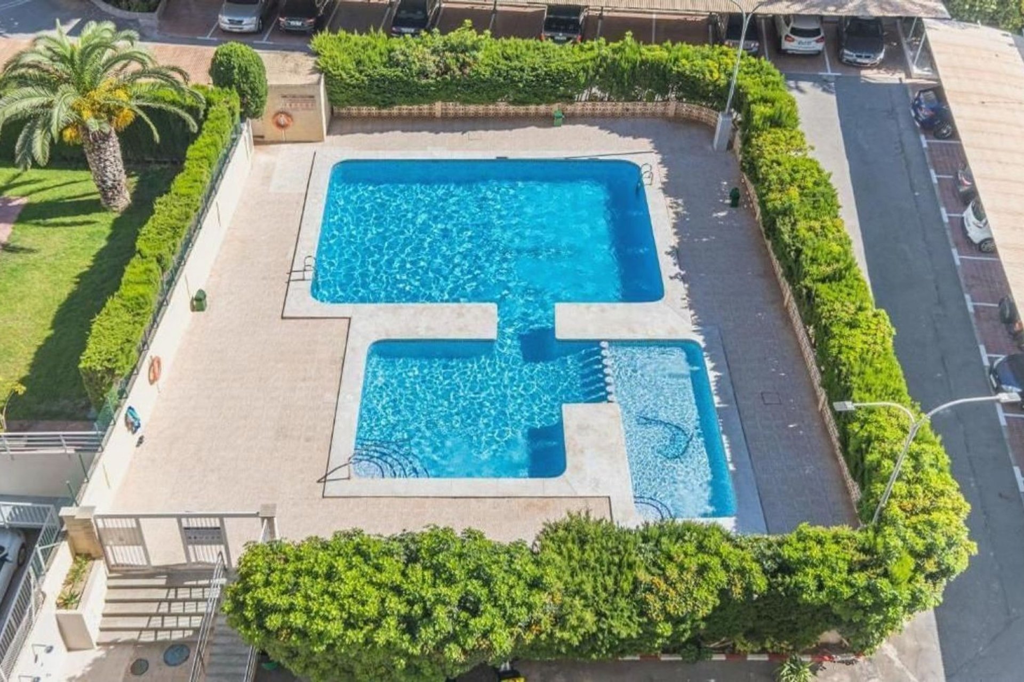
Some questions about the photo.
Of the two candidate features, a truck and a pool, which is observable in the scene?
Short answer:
pool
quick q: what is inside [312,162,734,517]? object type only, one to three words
swimming pool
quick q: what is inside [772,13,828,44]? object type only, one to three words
car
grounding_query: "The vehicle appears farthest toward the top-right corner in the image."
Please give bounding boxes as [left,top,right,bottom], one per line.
[920,82,964,138]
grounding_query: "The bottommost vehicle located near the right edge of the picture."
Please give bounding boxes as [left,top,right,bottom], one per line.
[992,342,1024,409]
